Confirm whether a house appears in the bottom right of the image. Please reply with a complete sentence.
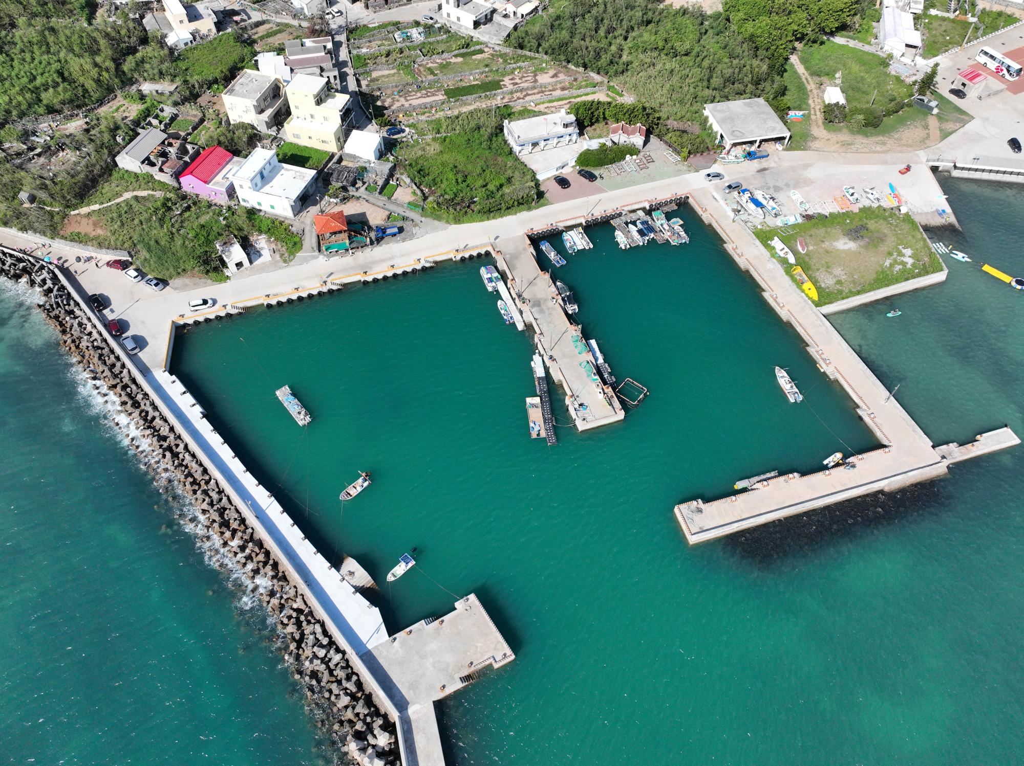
No, in the bottom right of the image there is no house.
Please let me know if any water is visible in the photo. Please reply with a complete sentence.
Yes, water can be seen from above here.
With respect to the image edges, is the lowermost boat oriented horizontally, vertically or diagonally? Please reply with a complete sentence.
What the image shows is the lowermost boat lying diagonally.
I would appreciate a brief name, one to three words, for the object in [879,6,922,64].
house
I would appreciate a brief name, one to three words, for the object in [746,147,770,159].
vehicle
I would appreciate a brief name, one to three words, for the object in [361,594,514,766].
pier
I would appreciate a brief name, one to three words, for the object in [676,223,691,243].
boat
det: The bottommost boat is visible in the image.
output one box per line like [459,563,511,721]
[387,548,415,580]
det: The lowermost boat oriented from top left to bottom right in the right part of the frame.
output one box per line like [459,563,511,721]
[778,364,804,403]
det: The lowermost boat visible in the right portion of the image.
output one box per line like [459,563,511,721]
[819,449,845,469]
